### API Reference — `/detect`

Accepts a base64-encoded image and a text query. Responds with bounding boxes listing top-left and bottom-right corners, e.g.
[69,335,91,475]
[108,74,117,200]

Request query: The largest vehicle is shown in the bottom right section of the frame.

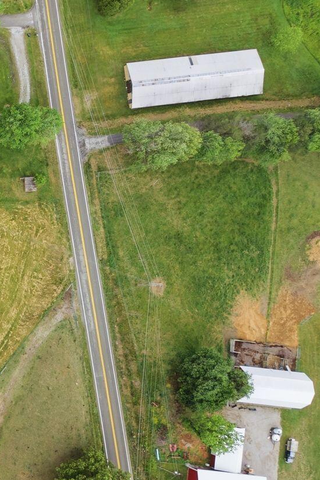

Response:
[284,439,298,461]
